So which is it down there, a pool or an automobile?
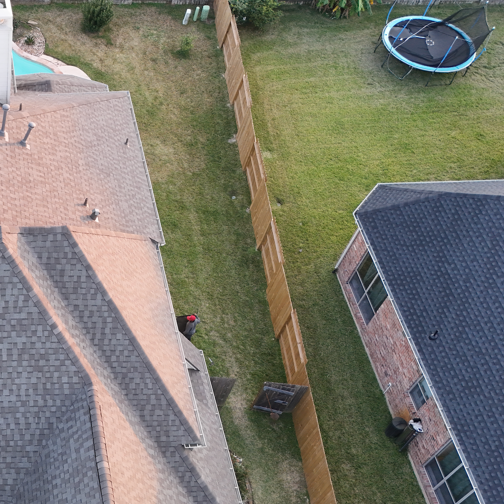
pool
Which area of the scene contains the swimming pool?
top left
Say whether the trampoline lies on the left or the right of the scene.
right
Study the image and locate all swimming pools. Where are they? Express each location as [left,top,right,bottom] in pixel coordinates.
[13,39,64,75]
